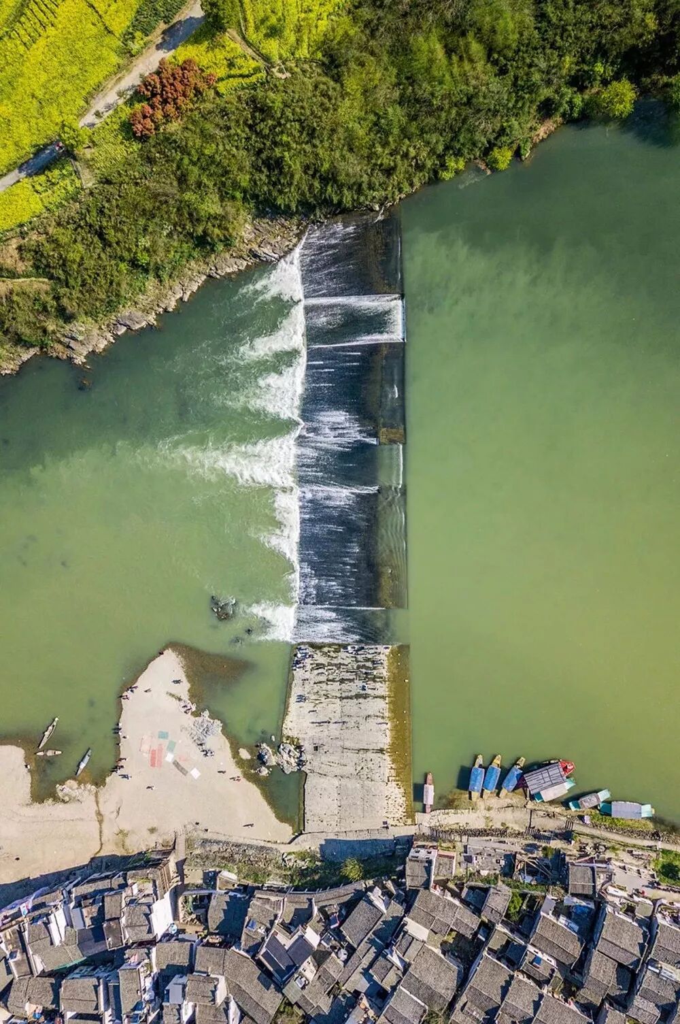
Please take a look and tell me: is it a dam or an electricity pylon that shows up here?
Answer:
dam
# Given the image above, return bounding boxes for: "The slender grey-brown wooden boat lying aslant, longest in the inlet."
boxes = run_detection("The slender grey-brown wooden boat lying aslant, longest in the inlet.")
[38,717,58,749]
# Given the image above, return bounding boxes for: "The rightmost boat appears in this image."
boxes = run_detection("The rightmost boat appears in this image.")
[597,801,654,820]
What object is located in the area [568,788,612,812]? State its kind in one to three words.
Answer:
boat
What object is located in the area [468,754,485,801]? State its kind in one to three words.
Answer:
boat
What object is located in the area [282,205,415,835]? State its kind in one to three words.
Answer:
dam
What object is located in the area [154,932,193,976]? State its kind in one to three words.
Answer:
house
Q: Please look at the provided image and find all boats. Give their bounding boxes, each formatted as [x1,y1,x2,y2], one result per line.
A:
[468,754,485,801]
[497,756,525,800]
[38,717,58,749]
[516,761,577,800]
[76,748,91,776]
[35,750,62,756]
[531,776,575,803]
[423,771,434,813]
[482,753,502,801]
[549,758,562,764]
[597,801,654,820]
[568,788,612,812]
